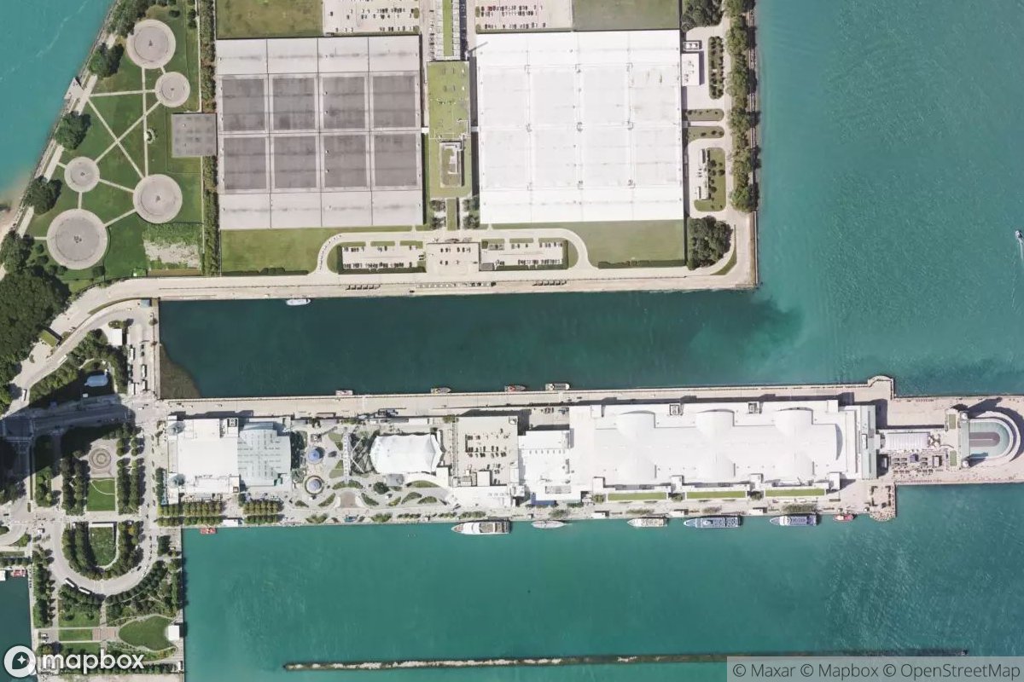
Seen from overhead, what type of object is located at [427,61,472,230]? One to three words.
building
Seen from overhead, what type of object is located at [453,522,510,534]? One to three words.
boat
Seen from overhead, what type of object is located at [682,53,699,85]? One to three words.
building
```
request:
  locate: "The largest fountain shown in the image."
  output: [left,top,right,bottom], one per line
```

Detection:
[89,447,112,469]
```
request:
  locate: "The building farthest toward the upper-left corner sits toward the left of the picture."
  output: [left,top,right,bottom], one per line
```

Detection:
[171,112,216,157]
